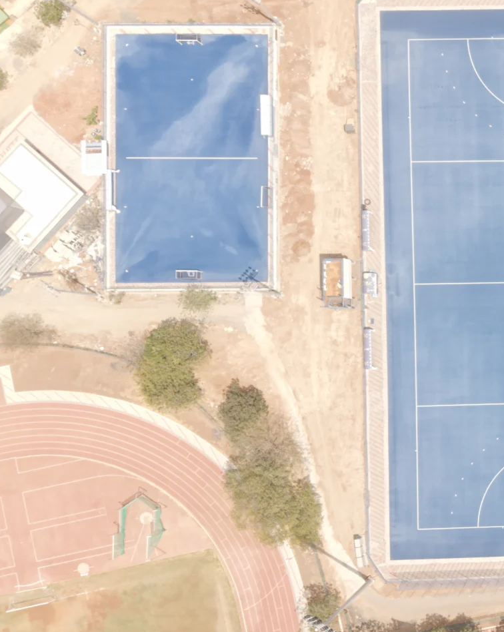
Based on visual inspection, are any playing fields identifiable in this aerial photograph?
Yes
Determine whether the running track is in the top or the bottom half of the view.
bottom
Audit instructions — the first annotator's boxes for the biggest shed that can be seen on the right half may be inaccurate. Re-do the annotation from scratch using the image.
[317,257,352,309]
